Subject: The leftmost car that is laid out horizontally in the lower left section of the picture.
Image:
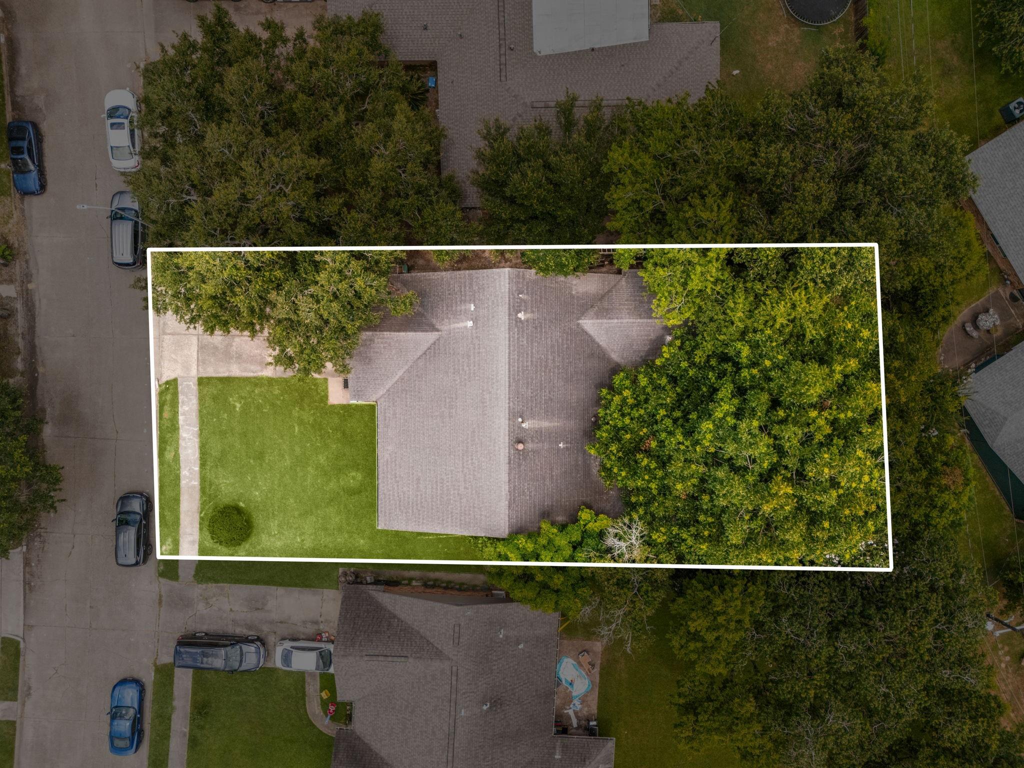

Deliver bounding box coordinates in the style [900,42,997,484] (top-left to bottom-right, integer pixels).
[173,632,272,679]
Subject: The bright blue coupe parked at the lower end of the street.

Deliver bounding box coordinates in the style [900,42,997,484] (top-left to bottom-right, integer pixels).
[106,673,151,757]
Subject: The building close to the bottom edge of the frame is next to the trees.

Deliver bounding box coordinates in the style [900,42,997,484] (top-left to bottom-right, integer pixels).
[329,580,617,768]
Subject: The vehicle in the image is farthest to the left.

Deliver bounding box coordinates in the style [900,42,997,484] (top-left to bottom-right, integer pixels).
[5,118,51,198]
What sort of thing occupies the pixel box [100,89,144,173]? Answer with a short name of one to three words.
car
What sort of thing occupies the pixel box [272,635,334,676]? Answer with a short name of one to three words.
car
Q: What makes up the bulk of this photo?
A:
trees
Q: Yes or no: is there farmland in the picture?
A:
No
